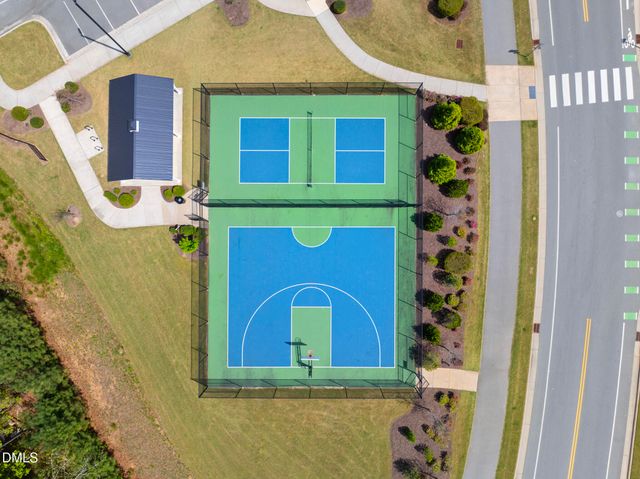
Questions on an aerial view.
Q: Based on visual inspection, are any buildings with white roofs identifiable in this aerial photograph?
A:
No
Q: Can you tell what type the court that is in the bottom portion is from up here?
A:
basketball court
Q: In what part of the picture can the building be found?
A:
top left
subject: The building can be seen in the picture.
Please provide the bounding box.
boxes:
[107,73,183,186]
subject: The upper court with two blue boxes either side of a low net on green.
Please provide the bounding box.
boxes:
[208,95,416,208]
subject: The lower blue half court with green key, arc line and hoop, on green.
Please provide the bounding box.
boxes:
[208,208,416,388]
